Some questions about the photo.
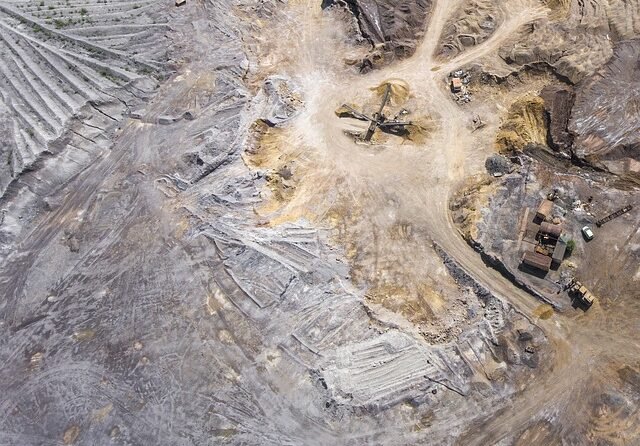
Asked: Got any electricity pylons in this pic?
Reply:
No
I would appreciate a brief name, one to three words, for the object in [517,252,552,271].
shed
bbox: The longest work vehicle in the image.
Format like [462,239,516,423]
[569,279,599,306]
